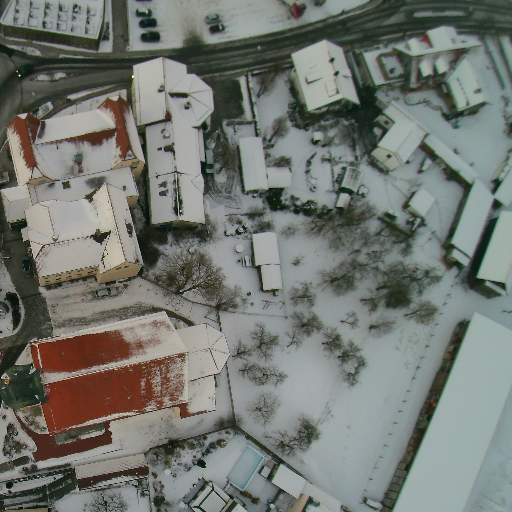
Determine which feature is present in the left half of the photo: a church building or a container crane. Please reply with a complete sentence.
It is a church building that can be seen in the left half of the photo.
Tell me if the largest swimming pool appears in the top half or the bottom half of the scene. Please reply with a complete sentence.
The largest swimming pool is in the bottom half of the image.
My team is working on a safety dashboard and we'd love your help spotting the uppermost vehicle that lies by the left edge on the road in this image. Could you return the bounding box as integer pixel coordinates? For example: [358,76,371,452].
[15,63,36,77]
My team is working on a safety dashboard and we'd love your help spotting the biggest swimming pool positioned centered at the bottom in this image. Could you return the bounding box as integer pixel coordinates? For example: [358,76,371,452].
[227,445,270,489]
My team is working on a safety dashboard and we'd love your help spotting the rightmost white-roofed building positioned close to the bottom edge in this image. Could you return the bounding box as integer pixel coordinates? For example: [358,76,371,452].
[388,313,512,512]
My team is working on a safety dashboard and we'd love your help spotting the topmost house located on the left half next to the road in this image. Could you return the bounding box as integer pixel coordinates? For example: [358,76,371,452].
[133,57,214,137]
